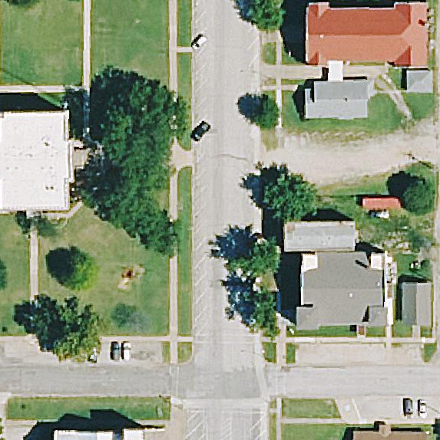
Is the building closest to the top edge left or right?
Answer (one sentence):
The building closest to the top edge appears in the right half of the scene.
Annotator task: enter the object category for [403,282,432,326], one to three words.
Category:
building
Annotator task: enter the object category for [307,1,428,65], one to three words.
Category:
building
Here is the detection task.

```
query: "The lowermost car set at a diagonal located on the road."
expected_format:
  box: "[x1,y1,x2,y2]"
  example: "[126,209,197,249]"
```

[193,121,210,139]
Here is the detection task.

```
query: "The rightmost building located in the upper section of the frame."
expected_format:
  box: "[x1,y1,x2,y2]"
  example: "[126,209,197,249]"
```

[408,68,433,92]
